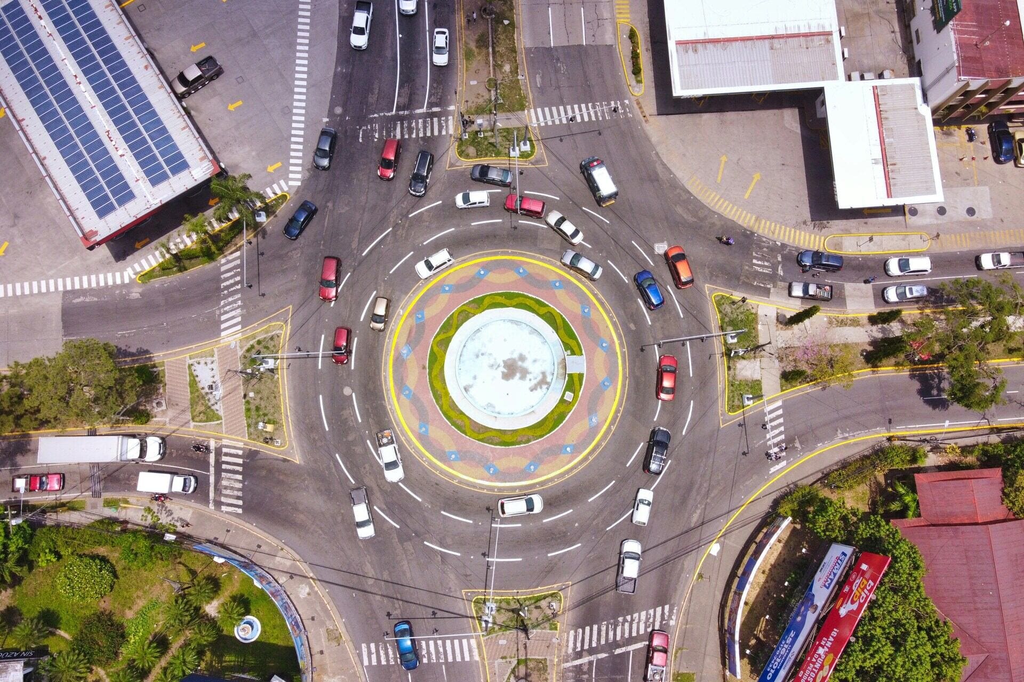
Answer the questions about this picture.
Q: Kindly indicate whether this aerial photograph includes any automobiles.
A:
Yes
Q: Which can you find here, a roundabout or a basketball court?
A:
roundabout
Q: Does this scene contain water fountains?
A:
Yes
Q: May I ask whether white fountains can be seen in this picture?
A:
Yes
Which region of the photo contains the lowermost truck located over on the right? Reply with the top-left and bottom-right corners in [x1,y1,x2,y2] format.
[644,630,672,682]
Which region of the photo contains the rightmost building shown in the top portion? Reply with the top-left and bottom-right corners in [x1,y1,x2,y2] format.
[903,0,1024,122]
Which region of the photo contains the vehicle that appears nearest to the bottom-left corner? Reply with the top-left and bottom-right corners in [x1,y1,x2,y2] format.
[9,471,67,495]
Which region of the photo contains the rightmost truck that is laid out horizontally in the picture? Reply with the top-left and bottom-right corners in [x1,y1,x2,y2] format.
[973,249,1024,272]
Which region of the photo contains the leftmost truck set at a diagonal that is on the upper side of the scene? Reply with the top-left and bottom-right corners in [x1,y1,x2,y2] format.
[170,53,227,96]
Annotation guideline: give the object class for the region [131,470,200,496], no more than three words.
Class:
truck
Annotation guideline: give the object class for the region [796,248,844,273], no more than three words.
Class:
car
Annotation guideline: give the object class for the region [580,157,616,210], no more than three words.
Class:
van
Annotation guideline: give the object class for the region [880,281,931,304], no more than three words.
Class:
car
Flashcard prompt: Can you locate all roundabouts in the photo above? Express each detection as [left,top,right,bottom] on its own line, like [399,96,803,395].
[382,251,630,498]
